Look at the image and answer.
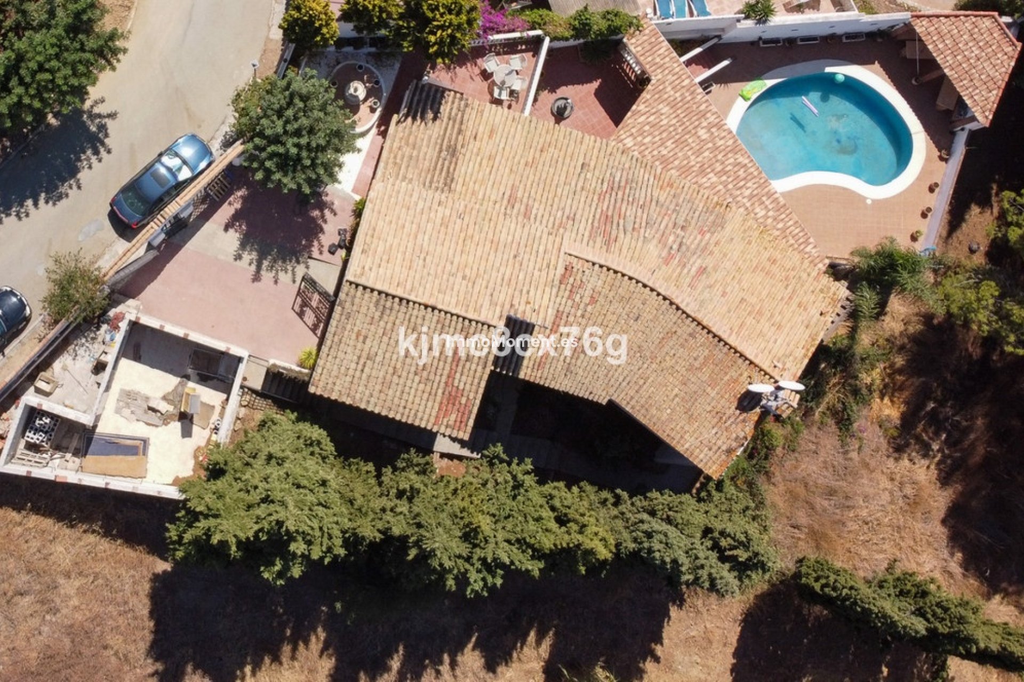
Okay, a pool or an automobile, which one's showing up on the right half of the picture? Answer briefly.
pool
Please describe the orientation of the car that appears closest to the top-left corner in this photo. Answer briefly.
diagonally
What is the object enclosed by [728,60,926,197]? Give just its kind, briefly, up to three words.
swimming pool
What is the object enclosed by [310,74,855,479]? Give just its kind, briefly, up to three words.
house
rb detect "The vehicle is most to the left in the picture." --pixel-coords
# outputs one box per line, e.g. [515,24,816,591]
[0,281,33,342]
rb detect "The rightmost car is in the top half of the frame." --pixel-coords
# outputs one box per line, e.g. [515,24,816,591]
[103,132,210,225]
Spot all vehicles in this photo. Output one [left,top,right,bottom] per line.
[103,132,210,225]
[0,281,33,342]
